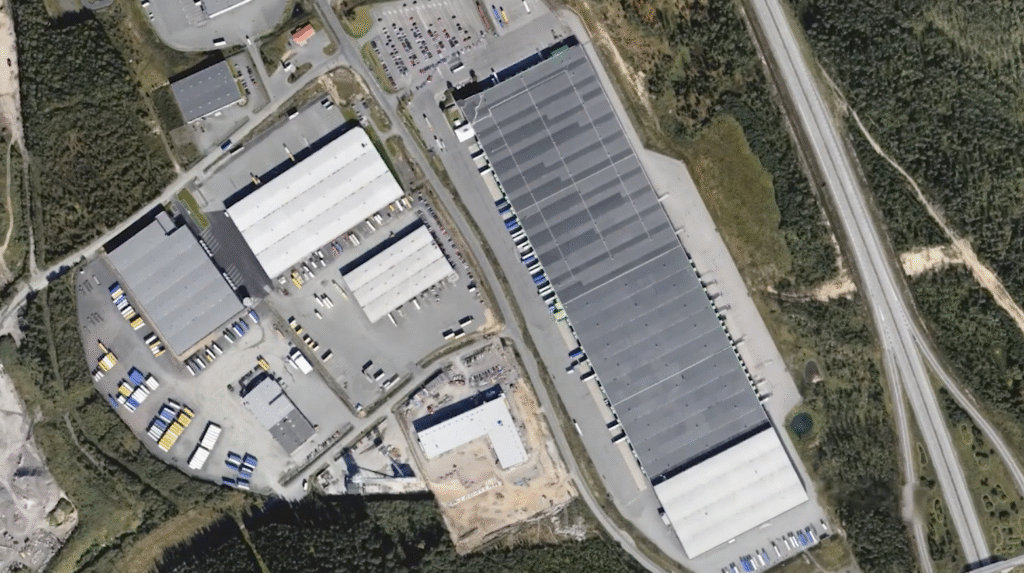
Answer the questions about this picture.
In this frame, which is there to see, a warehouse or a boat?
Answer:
warehouse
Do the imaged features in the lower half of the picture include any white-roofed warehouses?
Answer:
Yes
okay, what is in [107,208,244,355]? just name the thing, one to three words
warehouse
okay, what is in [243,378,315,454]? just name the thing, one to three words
building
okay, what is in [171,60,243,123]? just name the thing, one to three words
building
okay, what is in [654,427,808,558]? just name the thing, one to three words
warehouse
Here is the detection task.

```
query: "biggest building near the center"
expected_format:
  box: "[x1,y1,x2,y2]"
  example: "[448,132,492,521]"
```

[460,41,771,482]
